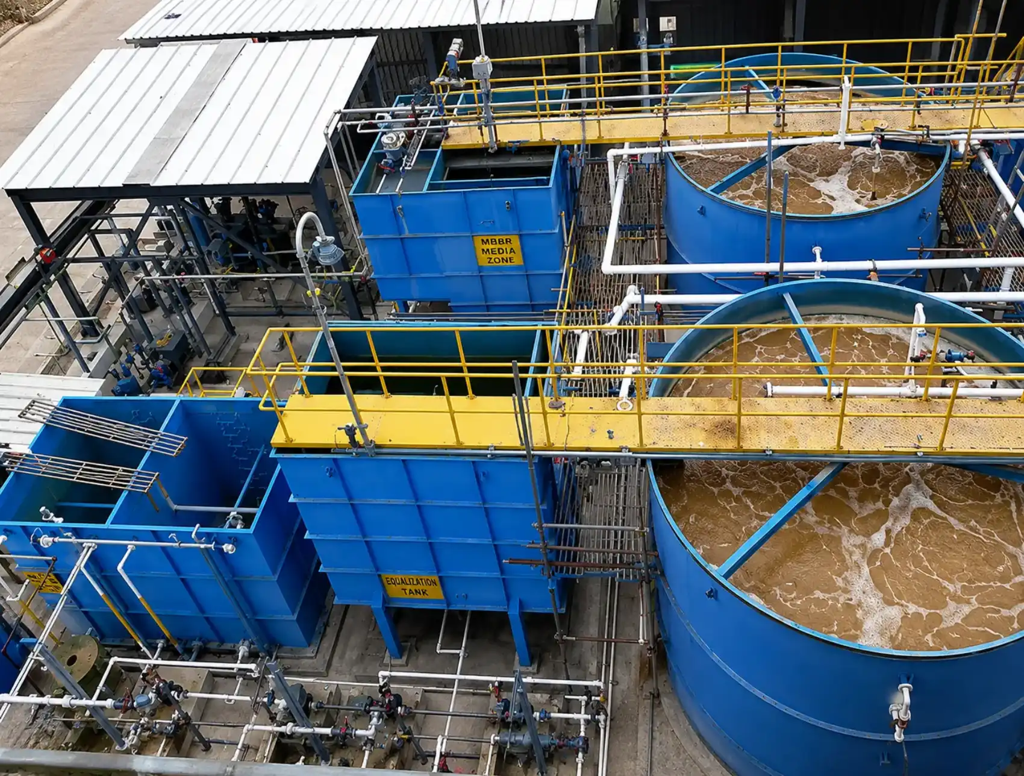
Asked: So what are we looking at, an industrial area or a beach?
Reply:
industrial area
